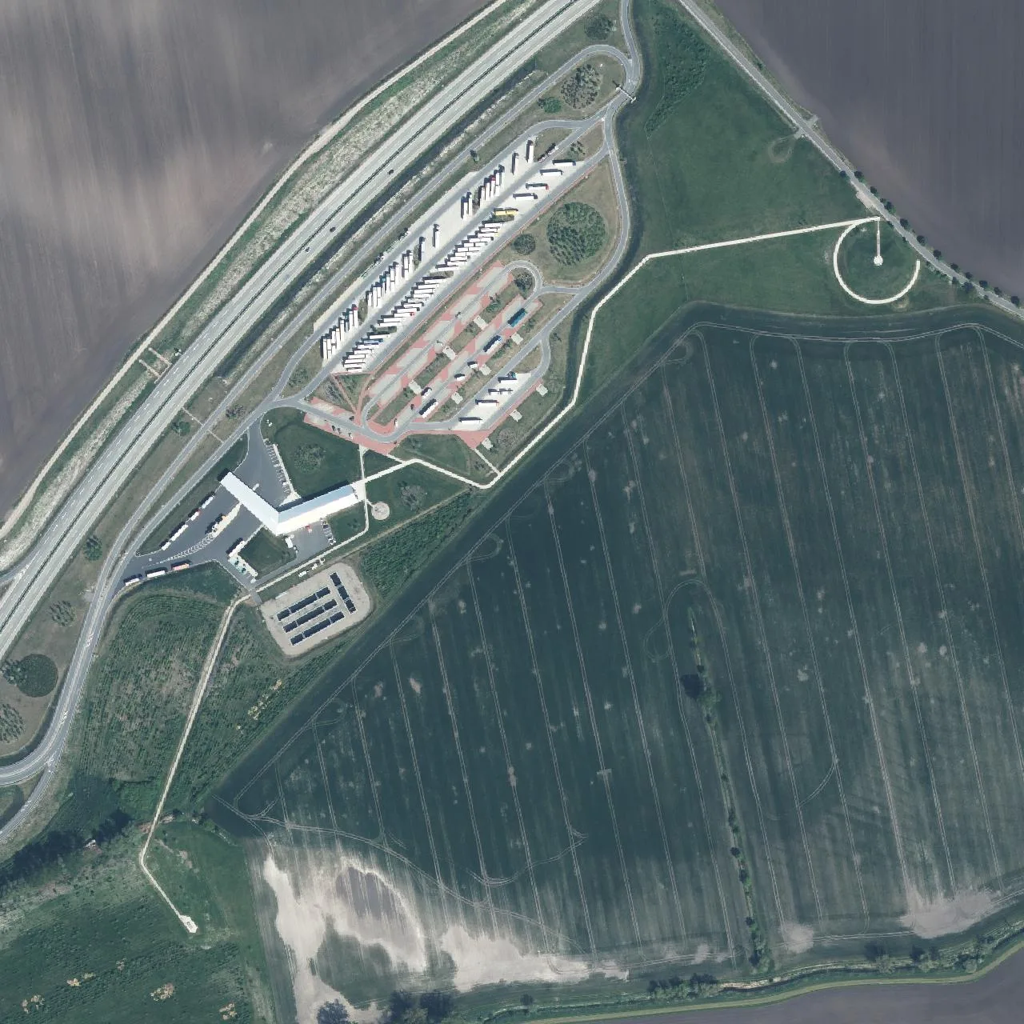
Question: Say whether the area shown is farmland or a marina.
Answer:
farmland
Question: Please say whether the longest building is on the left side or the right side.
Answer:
left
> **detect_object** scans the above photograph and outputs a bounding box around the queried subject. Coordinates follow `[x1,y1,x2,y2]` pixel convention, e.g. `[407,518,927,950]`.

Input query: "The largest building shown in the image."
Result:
[220,472,358,536]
